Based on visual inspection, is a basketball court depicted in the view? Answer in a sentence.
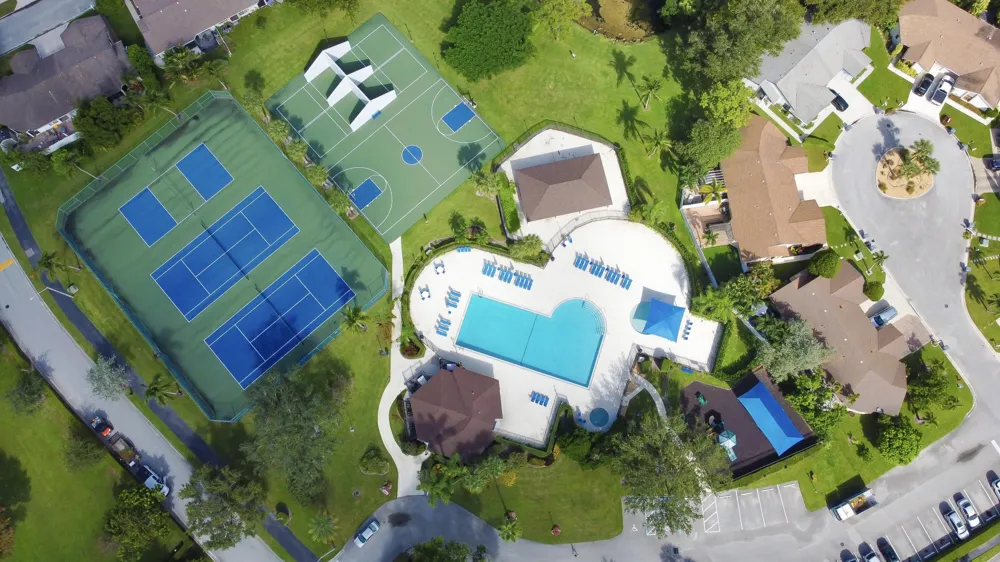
Yes, there is a basketball court in the image.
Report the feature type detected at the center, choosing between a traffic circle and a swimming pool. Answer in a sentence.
The feature located at the center is a swimming pool.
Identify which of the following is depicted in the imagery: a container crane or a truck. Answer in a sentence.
I can see a truck in this picture.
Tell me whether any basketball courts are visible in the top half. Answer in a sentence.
Yes, a basketball court shows up in the top half.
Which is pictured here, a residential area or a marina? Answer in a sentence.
The picture captures a residential area.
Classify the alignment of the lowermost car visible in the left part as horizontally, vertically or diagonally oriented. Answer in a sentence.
In this picture, the lowermost car visible in the left part lies diagonally.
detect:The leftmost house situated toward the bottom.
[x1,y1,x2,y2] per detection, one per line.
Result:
[410,366,503,458]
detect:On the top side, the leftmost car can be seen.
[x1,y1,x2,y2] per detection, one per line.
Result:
[830,85,852,112]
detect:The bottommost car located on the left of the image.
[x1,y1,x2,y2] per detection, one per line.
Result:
[352,519,381,548]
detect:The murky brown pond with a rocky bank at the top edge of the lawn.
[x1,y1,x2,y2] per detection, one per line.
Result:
[576,0,675,43]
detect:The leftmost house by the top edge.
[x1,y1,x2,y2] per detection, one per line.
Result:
[0,16,127,152]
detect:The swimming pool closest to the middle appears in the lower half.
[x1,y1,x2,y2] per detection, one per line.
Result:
[454,292,606,389]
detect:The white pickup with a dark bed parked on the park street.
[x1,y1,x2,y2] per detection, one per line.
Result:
[133,466,167,496]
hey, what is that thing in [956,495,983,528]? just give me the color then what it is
white car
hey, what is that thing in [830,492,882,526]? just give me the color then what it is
white truck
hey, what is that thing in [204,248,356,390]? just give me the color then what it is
blue tennis court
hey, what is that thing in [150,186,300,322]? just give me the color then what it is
blue tennis court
